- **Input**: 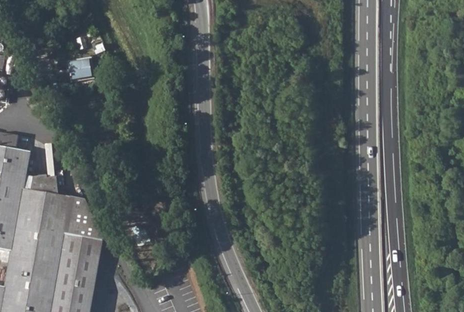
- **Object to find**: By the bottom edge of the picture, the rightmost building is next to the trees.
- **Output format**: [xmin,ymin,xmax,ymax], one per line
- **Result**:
[51,232,104,312]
